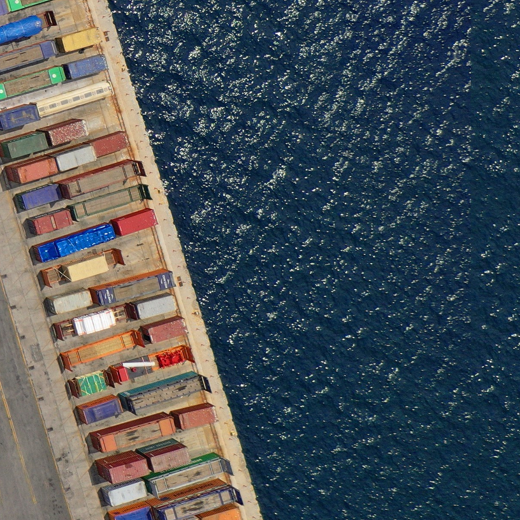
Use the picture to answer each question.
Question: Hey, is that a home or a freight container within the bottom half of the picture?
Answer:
freight container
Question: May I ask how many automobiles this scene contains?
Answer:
0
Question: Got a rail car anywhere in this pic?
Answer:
Yes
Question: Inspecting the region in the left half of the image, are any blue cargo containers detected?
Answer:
Yes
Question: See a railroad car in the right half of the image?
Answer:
No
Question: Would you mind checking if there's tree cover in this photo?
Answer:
No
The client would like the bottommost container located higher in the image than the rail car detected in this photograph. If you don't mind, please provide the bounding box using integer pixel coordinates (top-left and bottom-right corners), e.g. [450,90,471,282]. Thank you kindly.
[63,55,109,81]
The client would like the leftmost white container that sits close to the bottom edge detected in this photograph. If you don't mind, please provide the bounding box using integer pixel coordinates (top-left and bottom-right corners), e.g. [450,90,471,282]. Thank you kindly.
[100,476,149,507]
